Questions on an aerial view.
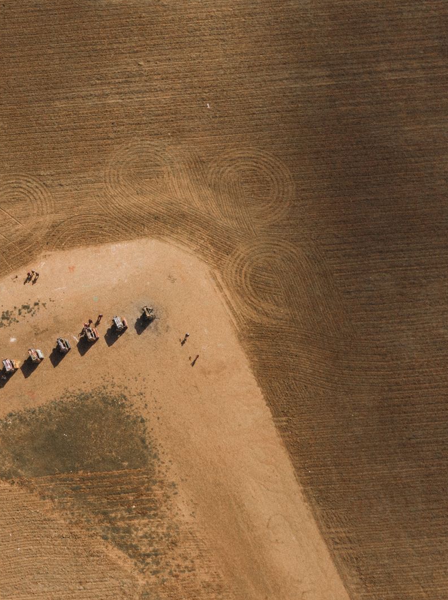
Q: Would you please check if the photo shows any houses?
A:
No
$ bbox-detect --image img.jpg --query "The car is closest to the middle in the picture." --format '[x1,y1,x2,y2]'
[142,304,154,319]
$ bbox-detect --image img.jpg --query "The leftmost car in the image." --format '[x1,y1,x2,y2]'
[1,356,18,373]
